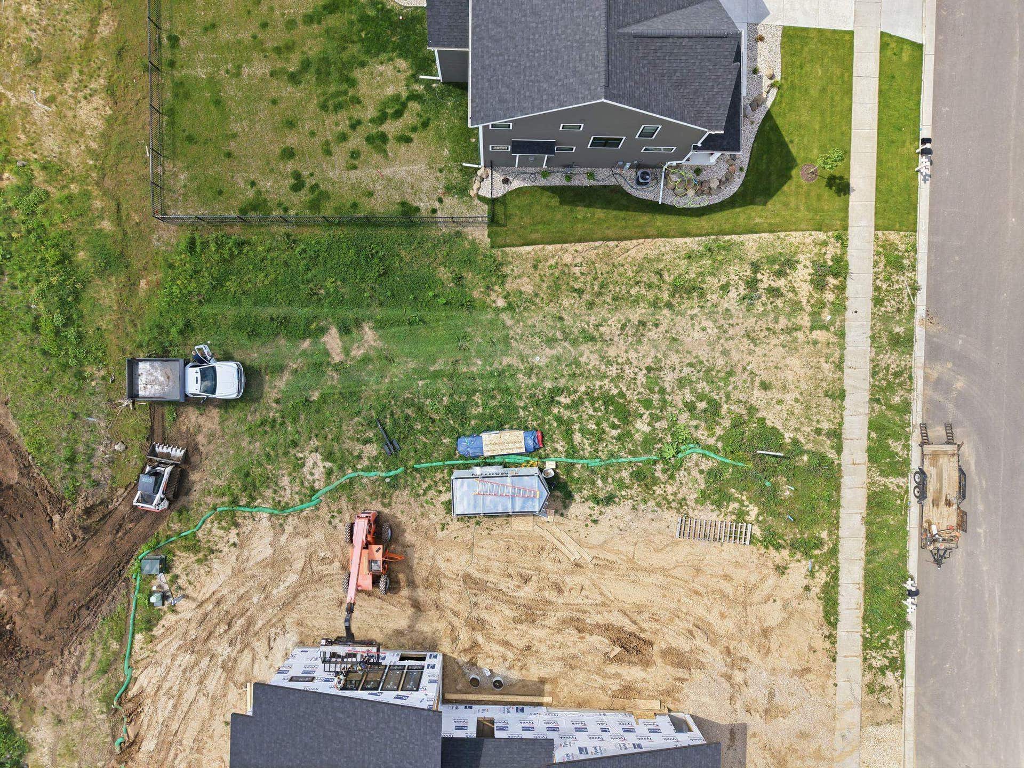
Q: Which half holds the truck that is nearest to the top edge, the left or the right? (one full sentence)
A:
The truck that is nearest to the top edge sits on the left side.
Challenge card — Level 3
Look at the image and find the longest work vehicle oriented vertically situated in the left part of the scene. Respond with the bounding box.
[329,516,398,645]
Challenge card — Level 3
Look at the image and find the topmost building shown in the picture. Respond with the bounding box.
[421,0,745,203]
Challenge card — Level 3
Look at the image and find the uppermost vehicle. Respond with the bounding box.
[127,344,248,406]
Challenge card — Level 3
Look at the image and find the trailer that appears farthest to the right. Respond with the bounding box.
[912,423,967,568]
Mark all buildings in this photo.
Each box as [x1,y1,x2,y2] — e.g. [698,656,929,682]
[421,0,745,203]
[227,646,717,768]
